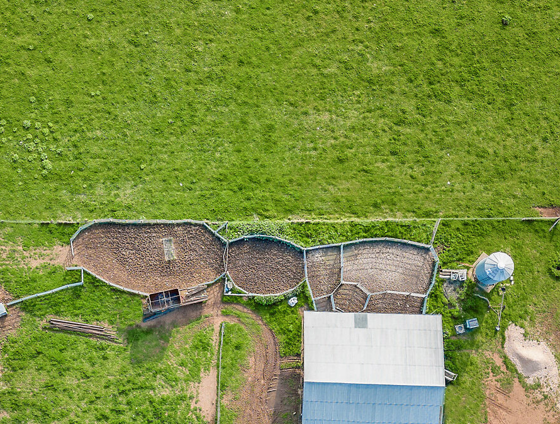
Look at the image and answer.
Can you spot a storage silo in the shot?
Yes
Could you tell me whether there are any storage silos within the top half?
No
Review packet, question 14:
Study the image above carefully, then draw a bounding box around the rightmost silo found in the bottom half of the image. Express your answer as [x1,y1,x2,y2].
[469,251,514,291]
